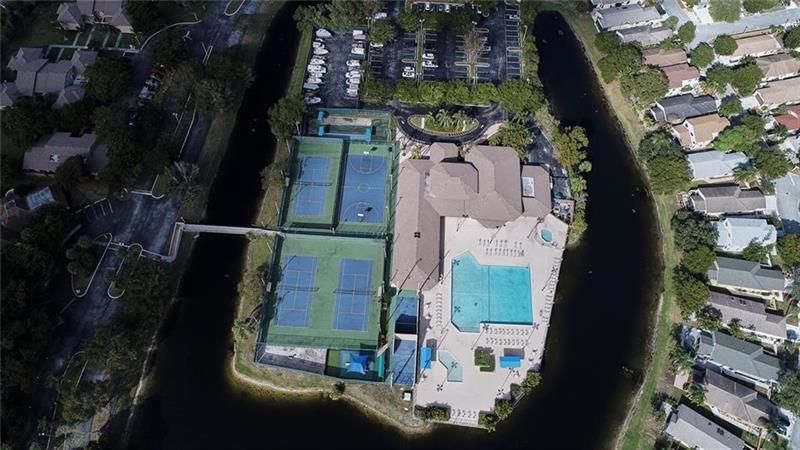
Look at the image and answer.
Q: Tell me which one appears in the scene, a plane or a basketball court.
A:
basketball court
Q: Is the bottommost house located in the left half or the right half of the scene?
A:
right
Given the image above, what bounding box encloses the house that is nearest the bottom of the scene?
[666,402,755,450]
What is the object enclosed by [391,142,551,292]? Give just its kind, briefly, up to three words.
building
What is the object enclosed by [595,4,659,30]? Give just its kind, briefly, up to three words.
house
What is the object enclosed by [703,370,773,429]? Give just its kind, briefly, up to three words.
house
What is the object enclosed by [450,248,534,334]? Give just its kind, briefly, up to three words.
swimming pool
